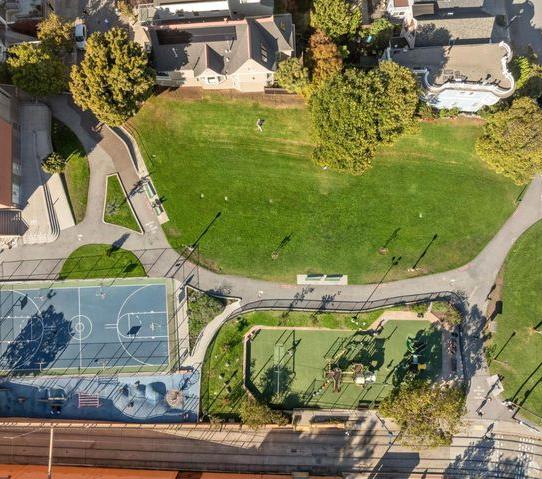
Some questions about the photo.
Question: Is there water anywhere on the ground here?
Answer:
No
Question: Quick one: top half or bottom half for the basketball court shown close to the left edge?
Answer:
bottom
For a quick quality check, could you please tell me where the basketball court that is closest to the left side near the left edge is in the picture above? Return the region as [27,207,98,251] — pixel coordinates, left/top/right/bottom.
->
[0,276,176,375]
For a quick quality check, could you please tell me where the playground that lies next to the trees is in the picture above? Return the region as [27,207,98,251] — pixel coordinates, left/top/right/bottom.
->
[243,309,462,405]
